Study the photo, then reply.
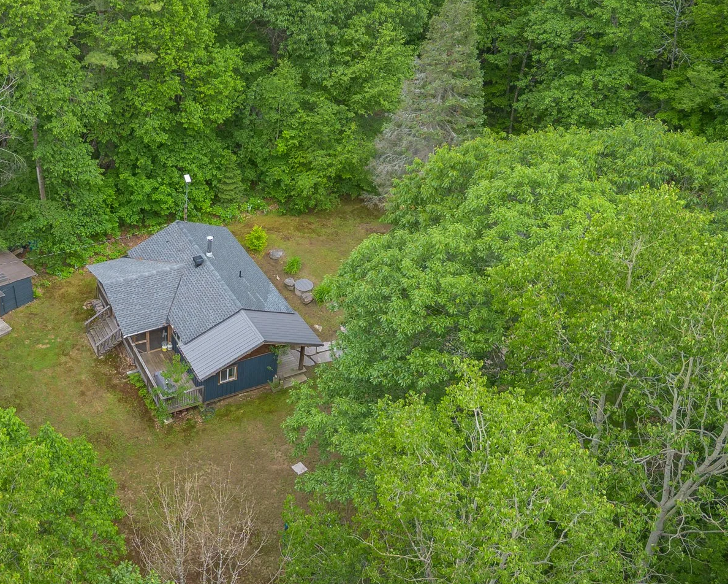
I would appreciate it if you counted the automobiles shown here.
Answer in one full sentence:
There are no automobiles in the image.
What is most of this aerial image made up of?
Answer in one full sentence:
For the most part, this view shows trees.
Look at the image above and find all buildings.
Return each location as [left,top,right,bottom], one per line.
[83,221,324,421]
[0,239,38,339]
